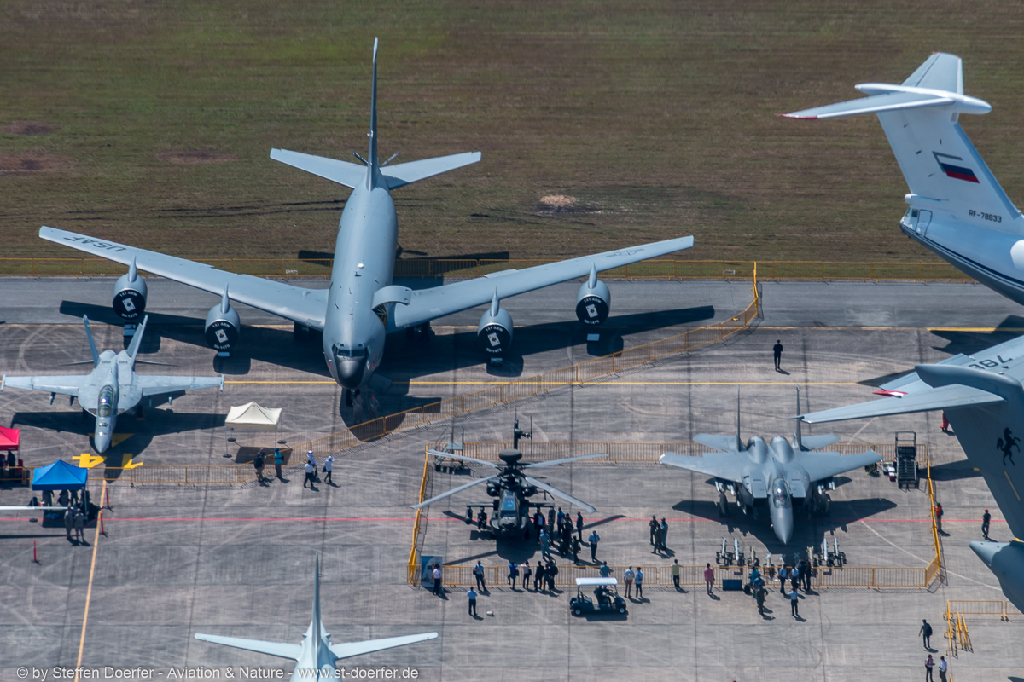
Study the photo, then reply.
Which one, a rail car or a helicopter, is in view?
helicopter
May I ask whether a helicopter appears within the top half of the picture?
No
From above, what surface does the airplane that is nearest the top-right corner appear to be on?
grass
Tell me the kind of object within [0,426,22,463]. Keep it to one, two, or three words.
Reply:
tent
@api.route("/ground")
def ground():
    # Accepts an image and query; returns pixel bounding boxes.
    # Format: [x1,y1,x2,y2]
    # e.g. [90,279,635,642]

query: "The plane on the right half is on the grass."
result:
[776,52,1024,398]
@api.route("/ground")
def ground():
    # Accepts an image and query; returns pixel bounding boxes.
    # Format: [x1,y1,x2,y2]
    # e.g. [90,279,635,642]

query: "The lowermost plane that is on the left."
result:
[195,550,440,682]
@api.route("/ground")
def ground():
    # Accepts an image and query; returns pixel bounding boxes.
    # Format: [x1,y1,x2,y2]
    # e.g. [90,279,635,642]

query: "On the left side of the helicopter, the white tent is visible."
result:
[223,400,286,457]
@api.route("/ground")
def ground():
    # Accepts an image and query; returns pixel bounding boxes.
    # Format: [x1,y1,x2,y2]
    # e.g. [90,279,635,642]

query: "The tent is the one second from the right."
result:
[28,461,93,521]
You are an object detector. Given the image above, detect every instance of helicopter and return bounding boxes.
[412,407,606,539]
